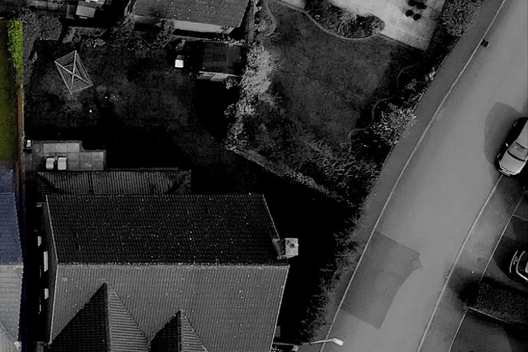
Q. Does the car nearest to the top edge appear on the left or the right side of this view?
right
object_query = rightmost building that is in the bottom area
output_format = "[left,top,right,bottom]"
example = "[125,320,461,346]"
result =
[35,170,300,352]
